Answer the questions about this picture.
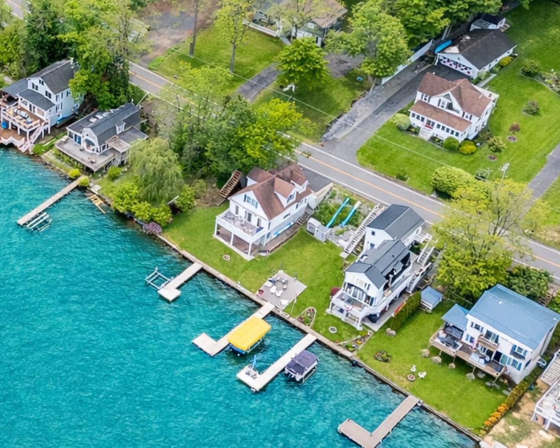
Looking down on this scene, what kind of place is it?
residential area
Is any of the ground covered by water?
Yes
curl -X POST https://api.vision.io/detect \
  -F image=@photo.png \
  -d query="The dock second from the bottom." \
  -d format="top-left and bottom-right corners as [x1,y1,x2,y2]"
[235,335,317,395]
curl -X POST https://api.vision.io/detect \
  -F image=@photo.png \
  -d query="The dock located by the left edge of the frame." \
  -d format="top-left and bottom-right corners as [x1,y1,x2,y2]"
[17,181,79,229]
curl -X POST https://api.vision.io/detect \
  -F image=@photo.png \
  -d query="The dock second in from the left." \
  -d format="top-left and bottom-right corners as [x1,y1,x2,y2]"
[157,263,203,305]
